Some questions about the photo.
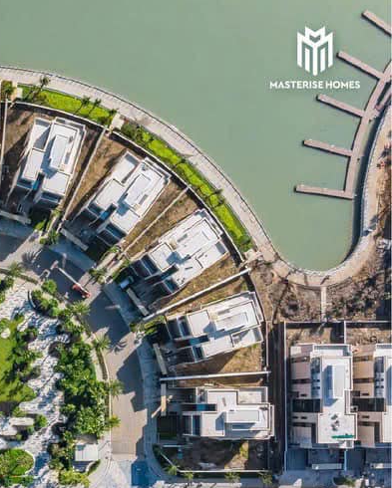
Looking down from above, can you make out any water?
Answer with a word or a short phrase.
Yes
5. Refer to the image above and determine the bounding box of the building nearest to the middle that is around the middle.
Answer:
[123,209,225,300]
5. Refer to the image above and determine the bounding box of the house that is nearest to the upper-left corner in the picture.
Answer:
[8,115,88,211]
